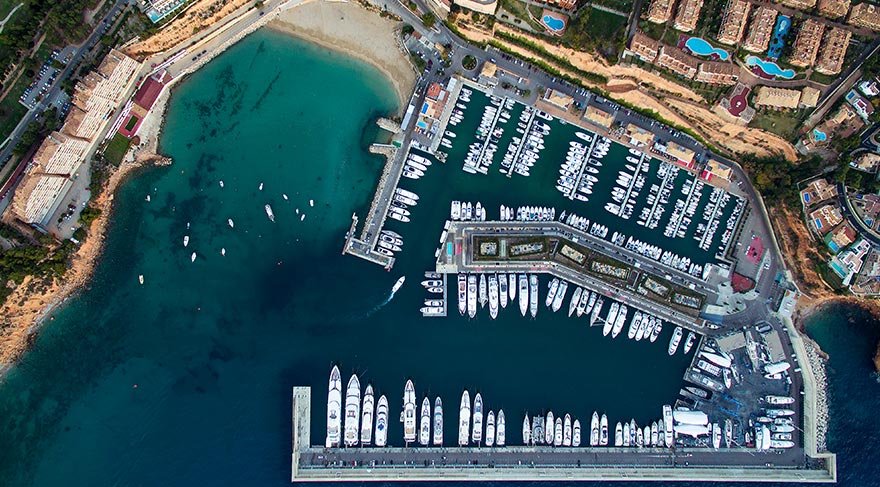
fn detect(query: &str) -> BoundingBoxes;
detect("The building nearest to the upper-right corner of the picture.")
[846,1,880,34]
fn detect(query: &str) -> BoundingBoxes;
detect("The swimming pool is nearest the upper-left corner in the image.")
[146,0,194,22]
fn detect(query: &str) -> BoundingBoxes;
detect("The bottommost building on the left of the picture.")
[5,161,68,224]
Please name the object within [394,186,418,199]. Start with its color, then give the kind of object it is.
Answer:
white boat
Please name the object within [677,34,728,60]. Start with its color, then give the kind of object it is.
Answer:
blue swimming pool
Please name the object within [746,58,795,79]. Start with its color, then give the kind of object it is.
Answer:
blue swimming pool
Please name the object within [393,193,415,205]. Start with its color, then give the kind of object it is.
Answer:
white boat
